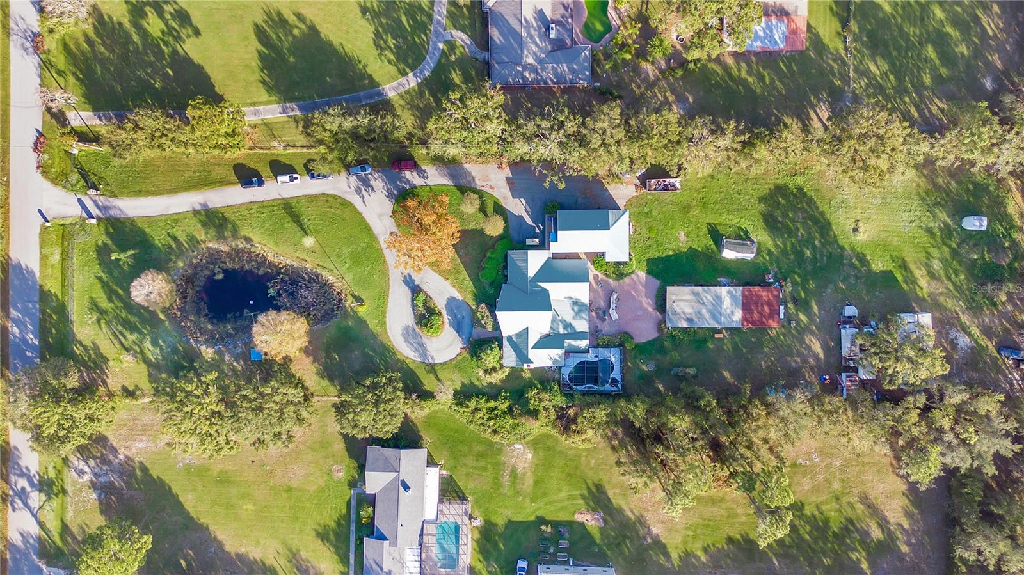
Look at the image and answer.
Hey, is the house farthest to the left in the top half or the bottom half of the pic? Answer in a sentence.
The house farthest to the left is in the bottom half of the image.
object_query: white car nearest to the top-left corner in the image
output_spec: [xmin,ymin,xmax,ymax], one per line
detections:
[276,173,301,185]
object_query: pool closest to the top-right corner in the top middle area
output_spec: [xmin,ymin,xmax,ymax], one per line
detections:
[580,0,613,44]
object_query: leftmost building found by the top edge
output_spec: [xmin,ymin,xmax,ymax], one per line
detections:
[481,0,592,87]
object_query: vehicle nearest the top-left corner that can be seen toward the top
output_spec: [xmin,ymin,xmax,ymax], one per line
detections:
[240,177,266,189]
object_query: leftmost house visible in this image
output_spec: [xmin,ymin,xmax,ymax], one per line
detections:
[363,445,440,575]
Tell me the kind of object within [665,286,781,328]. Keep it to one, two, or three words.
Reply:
shed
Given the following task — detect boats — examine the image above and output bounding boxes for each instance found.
[961,216,992,230]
